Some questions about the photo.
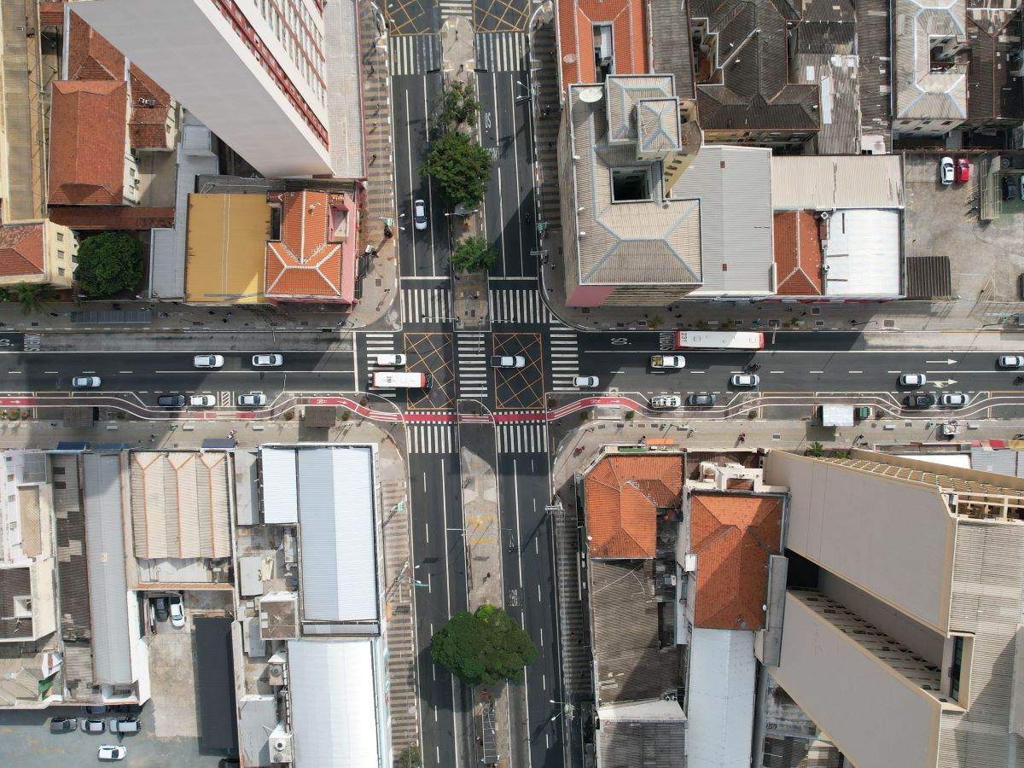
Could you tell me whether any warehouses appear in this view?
Yes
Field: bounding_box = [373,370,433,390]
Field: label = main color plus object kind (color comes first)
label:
white bus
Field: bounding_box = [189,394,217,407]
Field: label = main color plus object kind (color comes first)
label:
white vehicle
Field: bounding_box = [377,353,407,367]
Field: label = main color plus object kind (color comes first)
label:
white vehicle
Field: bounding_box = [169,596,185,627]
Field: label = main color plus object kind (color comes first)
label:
white car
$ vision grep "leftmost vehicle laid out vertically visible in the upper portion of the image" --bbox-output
[413,199,427,230]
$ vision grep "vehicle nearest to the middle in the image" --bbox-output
[491,354,525,368]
